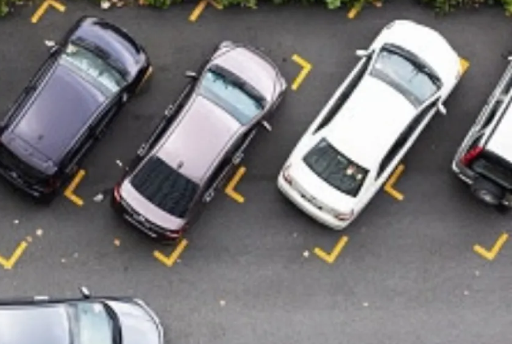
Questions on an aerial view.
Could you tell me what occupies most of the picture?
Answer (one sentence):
What you mostly see from above here is paved ground.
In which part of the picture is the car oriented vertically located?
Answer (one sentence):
The car oriented vertically appears toward the right of the photo.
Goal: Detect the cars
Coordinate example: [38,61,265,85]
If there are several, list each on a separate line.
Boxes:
[0,11,147,207]
[0,286,167,344]
[451,66,512,208]
[113,38,287,248]
[278,14,459,234]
